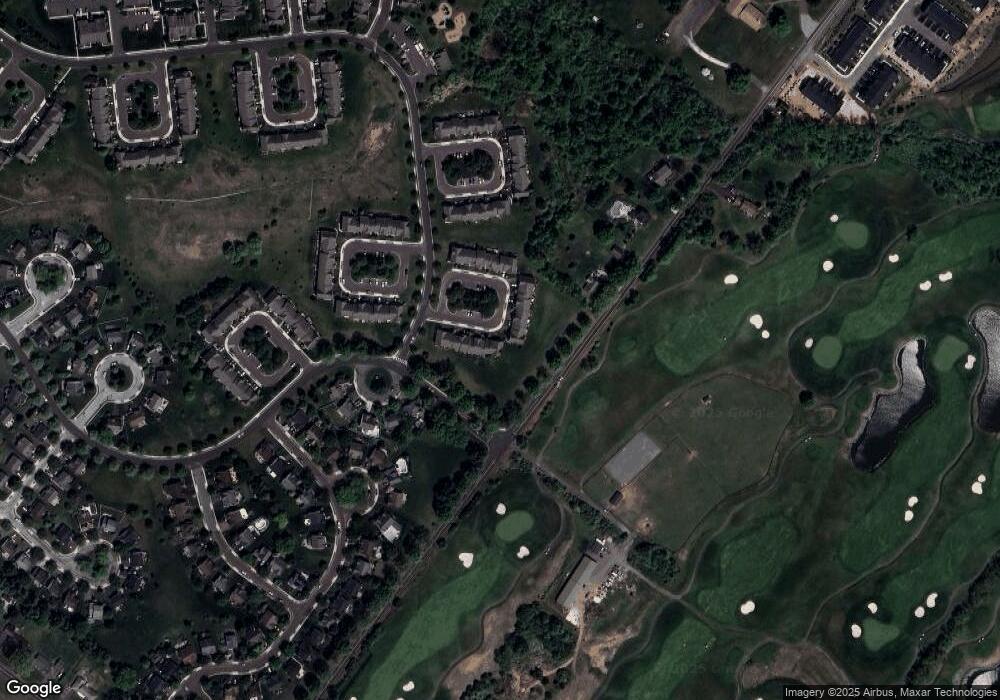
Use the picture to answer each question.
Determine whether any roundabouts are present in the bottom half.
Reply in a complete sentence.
Yes, in the bottom half there is a roundabout.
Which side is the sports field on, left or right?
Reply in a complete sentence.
The sports field is on the right side of the image.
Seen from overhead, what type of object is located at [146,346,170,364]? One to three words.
house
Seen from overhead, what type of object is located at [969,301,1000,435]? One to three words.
pond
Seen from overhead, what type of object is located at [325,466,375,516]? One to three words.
roundabout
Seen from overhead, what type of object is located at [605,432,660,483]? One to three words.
sports court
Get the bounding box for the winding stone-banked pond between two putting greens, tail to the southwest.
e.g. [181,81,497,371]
[847,336,937,474]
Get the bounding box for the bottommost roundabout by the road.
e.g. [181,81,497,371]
[75,543,115,583]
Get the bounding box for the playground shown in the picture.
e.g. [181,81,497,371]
[432,2,466,43]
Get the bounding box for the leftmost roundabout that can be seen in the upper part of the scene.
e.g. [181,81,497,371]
[27,255,72,300]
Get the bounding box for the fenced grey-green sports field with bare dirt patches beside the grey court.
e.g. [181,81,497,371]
[597,373,797,558]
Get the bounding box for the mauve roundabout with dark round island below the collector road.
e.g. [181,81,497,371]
[355,357,401,403]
